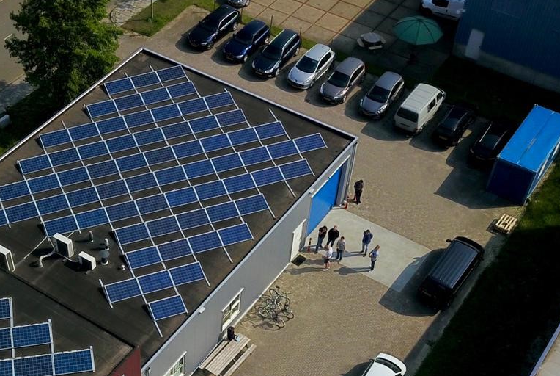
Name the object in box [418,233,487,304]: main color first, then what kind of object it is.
black van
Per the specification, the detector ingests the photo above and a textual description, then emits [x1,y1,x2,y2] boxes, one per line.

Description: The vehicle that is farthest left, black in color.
[186,6,237,52]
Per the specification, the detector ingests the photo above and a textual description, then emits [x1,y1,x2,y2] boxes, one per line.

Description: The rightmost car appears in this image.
[473,113,522,167]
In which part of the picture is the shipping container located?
right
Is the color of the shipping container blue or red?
blue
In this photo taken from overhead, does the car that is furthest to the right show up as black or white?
black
